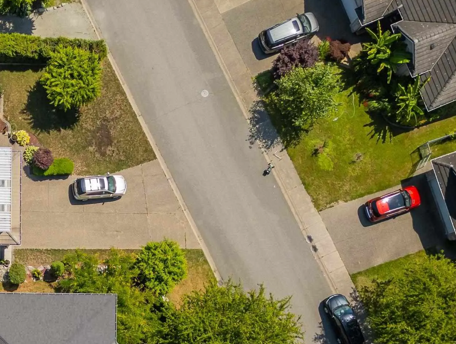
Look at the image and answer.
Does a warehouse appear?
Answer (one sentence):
No, the frame has no warehouse in it.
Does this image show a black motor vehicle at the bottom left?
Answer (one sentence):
No, there is no black motor vehicle at the bottom left.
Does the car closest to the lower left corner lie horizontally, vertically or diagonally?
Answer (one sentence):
In this picture, the car closest to the lower left corner lies horizontally.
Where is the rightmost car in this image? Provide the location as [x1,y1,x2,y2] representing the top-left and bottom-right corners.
[364,187,421,221]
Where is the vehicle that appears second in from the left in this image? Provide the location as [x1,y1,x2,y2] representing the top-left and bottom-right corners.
[256,13,316,54]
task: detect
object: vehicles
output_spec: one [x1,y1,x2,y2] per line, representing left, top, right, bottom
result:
[364,187,421,221]
[72,172,126,201]
[323,290,367,344]
[256,13,316,54]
